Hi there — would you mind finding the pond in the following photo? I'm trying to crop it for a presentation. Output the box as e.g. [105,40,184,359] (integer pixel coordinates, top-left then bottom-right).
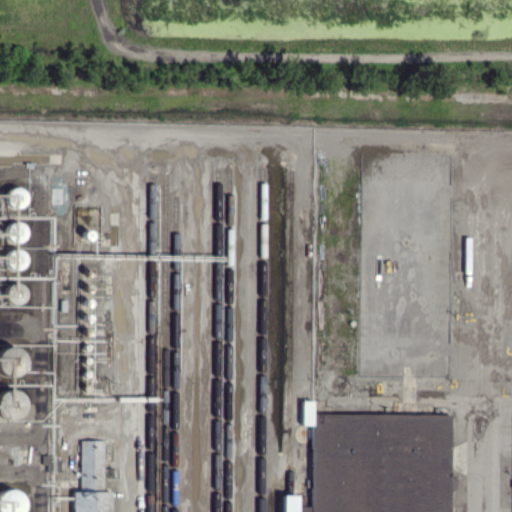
[146,0,512,42]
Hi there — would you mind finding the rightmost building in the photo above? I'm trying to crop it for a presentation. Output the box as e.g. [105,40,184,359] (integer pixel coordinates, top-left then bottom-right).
[312,414,452,512]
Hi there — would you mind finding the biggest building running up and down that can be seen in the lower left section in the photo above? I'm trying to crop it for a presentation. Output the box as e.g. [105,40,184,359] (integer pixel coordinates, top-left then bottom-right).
[80,441,105,492]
